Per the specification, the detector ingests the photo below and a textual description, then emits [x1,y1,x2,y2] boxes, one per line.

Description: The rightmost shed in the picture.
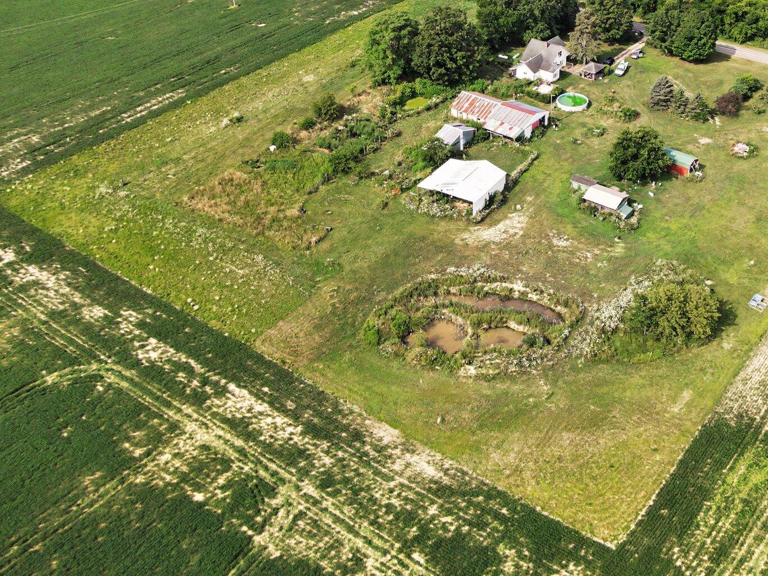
[664,149,700,176]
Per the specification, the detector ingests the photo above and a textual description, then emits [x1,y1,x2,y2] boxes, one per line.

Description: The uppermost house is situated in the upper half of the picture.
[510,35,571,82]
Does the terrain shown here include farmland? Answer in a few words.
Yes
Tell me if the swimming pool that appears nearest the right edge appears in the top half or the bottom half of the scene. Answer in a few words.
top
